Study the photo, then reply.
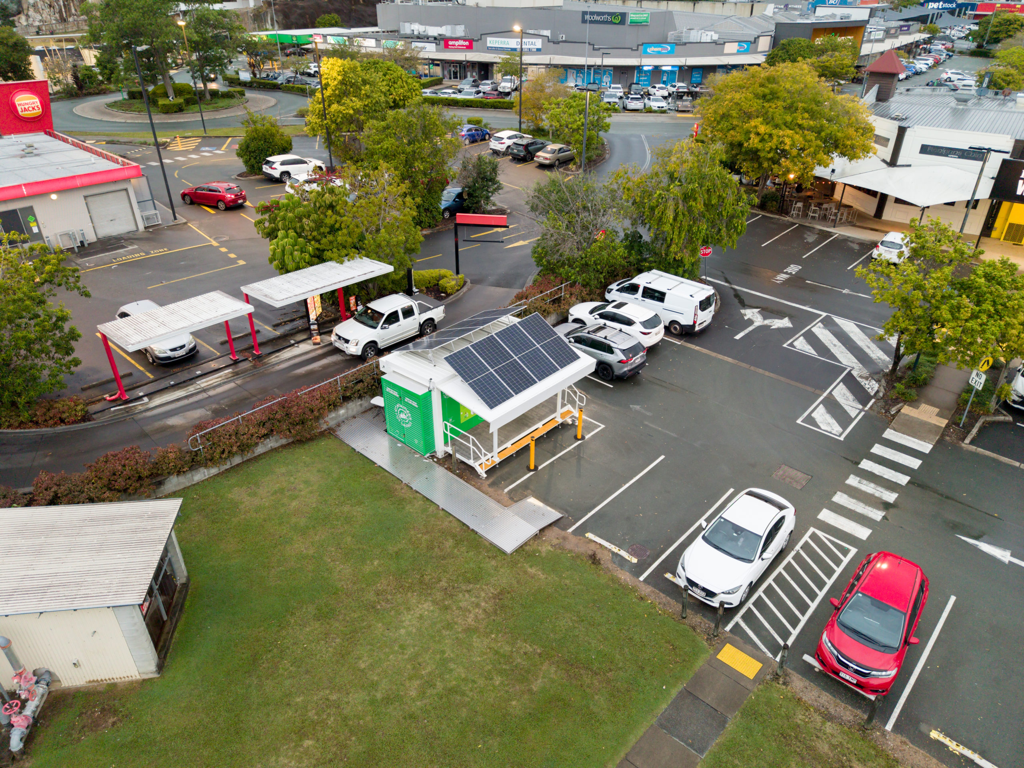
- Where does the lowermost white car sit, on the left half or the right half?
right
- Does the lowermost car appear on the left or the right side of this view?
right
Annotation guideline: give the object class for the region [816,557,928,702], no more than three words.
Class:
car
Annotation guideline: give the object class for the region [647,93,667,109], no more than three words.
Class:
car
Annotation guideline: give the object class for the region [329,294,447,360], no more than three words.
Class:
truck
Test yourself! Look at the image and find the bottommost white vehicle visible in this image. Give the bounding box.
[678,490,804,612]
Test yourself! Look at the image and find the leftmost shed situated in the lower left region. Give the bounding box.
[0,497,201,697]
